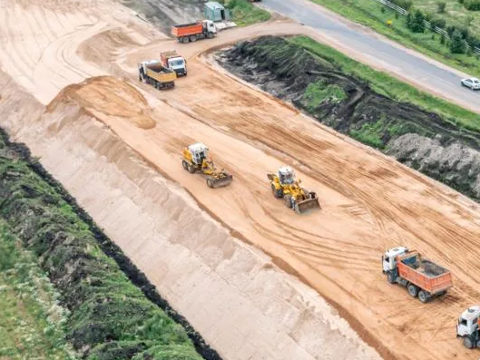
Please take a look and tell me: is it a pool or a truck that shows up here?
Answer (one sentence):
I can see a truck in this picture.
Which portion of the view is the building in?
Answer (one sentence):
Look in the top portion of the view to spot the building.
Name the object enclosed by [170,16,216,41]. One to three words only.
truck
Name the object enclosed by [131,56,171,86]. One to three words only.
truck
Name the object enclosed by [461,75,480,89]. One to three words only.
vehicle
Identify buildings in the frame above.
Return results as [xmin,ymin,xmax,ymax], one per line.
[205,3,229,24]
